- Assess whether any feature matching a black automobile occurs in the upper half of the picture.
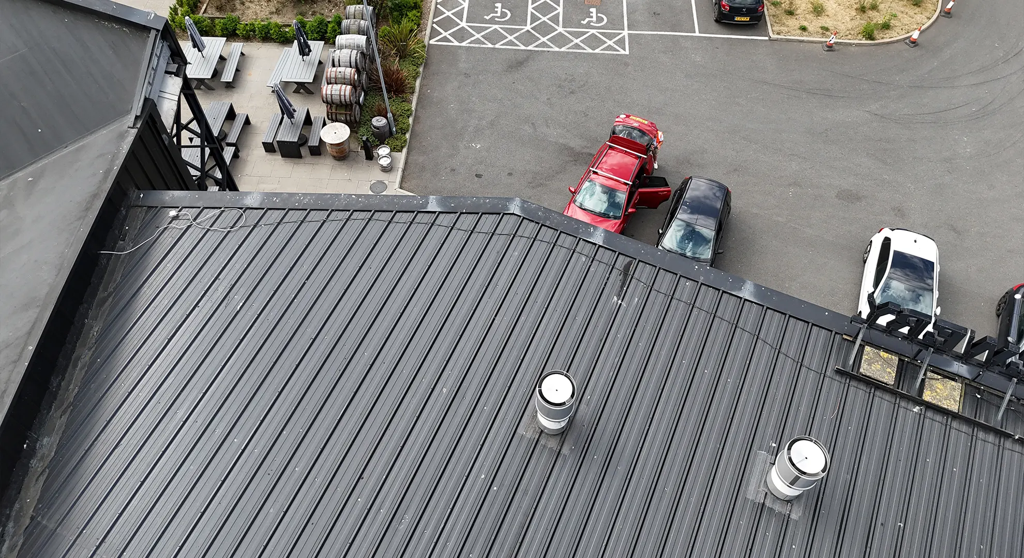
Yes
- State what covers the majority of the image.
buildings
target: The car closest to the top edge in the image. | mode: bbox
[715,0,768,26]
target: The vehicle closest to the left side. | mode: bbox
[566,111,668,239]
